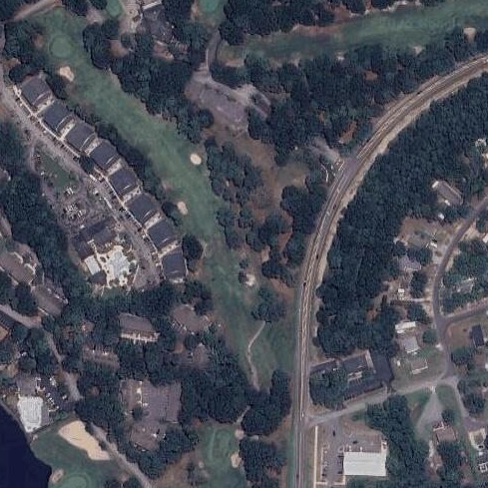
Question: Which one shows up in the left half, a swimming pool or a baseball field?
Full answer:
You can see a swimming pool in the left half.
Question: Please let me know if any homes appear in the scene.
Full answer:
Yes, you can see a home in this photo.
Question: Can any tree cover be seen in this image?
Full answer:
Yes, tree cover can be seen from above here.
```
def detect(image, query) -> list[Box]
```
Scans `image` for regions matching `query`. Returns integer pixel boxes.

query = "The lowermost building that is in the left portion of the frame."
[129,424,161,451]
